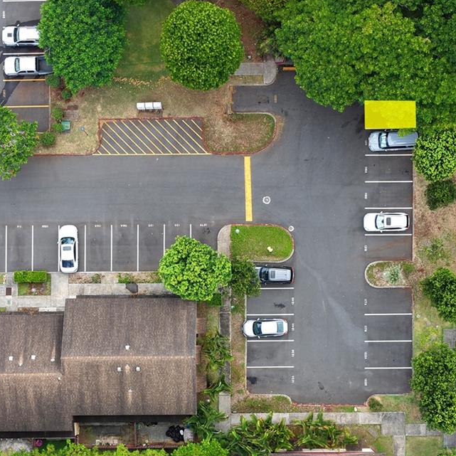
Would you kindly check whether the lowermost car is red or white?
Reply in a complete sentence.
The lowermost car looks white in the image.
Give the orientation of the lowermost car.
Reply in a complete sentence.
What the image shows is the lowermost car lying horizontally.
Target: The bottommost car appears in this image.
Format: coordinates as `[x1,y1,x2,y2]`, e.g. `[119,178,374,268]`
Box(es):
[242,316,289,339]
